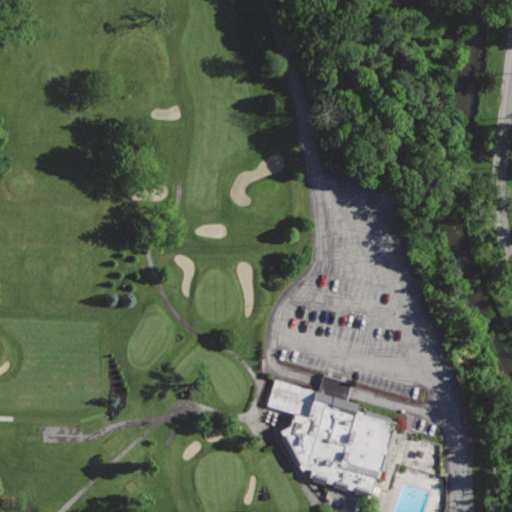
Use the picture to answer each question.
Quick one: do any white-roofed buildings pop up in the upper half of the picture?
No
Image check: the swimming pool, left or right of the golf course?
to the right of it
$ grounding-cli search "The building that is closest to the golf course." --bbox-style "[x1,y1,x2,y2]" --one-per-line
[266,378,394,496]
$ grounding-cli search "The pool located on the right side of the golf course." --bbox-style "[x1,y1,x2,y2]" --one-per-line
[394,483,430,512]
